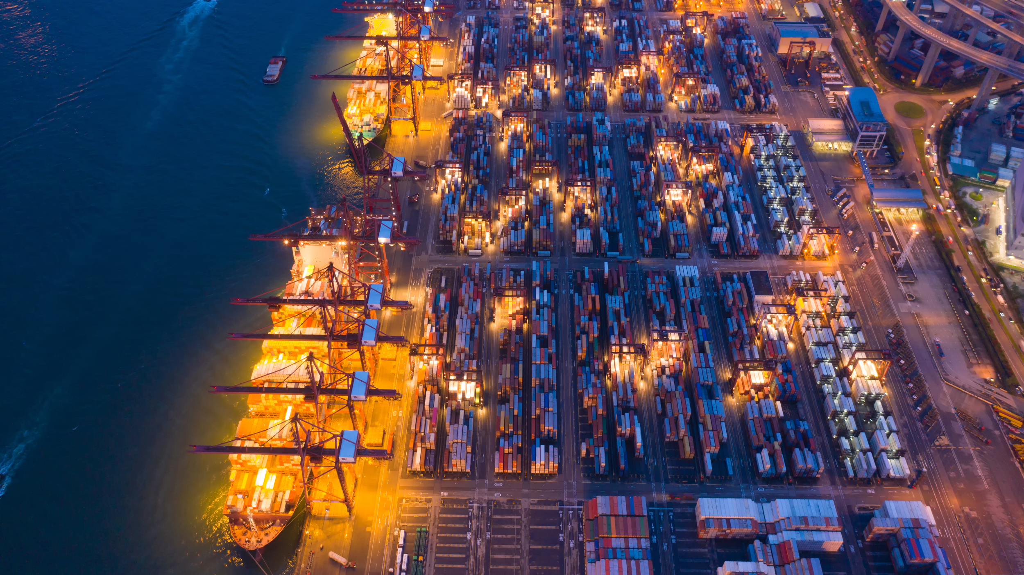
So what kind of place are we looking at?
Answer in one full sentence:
It's a port.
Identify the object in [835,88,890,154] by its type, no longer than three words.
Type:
building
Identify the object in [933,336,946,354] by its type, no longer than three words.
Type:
vehicle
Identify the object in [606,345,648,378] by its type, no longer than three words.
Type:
container crane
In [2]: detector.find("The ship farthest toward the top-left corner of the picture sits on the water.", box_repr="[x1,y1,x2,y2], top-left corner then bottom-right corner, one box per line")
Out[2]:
[264,55,287,84]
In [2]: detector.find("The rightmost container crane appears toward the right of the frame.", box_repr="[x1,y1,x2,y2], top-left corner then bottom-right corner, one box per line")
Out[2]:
[846,350,896,384]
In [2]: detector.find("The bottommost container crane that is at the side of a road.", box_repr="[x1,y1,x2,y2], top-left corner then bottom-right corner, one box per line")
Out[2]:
[185,411,396,521]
